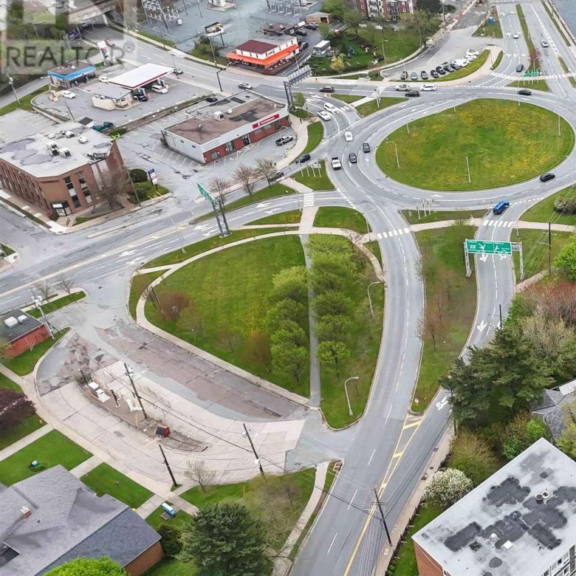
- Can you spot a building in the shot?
Yes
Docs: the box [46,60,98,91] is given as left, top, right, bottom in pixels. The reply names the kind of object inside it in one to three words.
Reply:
building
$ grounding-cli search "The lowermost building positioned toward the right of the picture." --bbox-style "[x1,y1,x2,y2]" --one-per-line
[411,435,576,576]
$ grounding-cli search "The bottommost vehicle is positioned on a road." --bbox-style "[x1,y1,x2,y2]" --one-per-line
[492,201,510,214]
